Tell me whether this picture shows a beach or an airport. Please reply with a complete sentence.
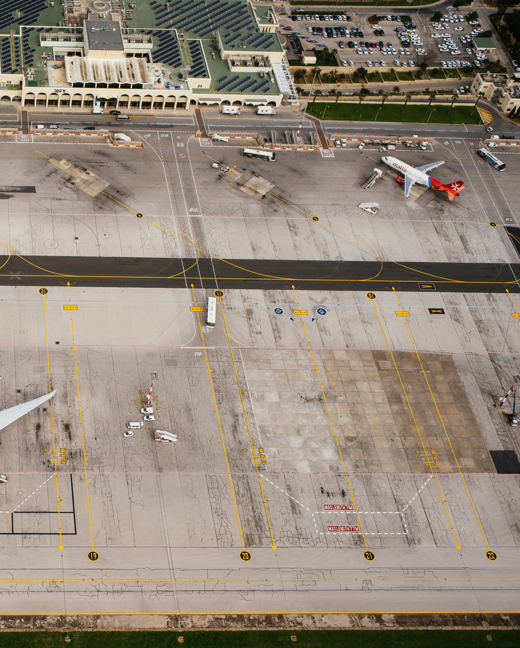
The picture captures an airport.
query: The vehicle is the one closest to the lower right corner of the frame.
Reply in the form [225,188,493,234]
[507,403,520,429]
